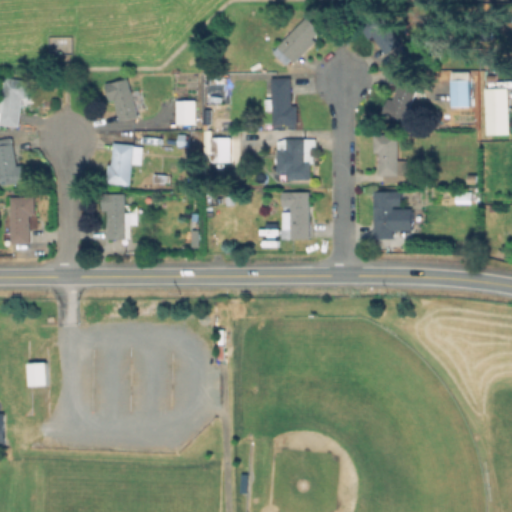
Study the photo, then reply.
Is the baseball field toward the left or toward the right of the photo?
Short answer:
right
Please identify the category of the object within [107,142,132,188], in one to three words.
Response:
house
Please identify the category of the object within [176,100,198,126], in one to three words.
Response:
building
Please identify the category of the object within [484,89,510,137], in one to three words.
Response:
barn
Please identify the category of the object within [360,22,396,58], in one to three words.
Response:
house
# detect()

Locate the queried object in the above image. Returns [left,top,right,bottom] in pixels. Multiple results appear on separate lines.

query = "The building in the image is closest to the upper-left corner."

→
[0,79,28,127]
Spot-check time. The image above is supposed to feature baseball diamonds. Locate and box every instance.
[241,317,486,512]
